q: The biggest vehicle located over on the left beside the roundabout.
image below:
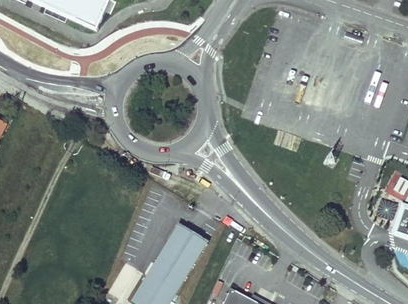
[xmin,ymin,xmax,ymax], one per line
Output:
[150,168,172,182]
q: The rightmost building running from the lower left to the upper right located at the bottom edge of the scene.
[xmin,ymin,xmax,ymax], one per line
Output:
[132,223,210,304]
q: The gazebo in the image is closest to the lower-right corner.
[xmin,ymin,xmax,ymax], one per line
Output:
[377,200,398,220]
